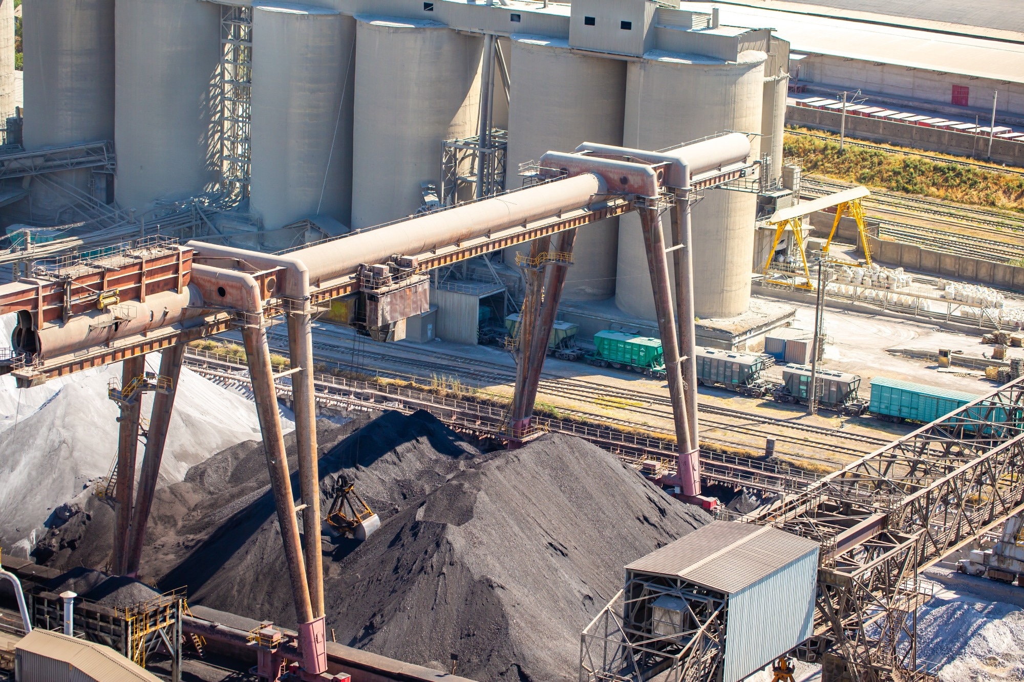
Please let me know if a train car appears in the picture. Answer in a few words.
Yes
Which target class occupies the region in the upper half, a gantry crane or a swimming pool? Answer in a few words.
gantry crane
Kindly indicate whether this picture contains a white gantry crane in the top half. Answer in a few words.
Yes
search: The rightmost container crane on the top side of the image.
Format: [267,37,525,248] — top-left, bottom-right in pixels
[774,178,881,284]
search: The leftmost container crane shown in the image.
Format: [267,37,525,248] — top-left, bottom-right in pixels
[0,122,799,682]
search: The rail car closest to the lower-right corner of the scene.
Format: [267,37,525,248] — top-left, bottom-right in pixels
[770,361,871,415]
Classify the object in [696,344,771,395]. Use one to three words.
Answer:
rail car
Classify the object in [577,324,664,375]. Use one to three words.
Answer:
rail car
